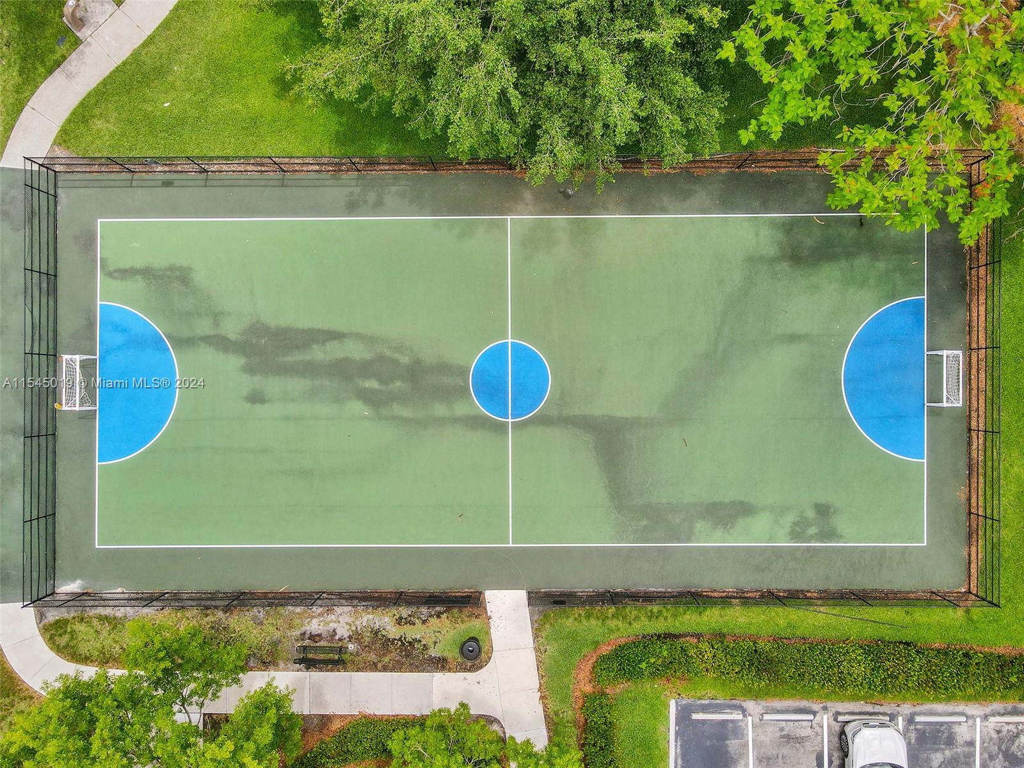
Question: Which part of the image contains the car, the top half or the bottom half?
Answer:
bottom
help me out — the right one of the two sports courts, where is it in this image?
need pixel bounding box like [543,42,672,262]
[55,168,967,592]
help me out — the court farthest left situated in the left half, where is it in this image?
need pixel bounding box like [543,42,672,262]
[0,166,55,604]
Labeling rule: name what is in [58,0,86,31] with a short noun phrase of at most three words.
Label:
fountain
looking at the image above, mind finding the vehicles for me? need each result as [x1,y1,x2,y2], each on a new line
[842,716,905,768]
